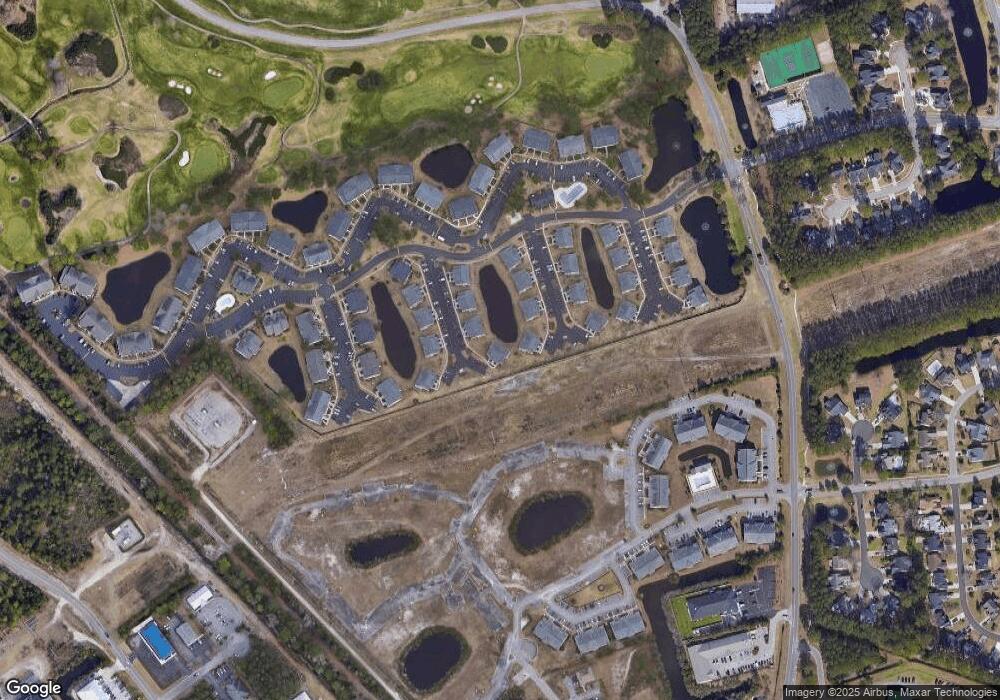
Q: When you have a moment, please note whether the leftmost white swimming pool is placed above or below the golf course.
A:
below it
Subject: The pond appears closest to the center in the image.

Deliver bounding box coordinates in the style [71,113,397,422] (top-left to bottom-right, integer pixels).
[479,266,519,342]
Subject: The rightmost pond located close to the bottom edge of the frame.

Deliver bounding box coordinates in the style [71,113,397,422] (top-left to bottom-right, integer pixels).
[642,561,751,700]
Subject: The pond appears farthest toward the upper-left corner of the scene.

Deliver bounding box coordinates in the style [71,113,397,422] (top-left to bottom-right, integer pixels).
[104,253,171,324]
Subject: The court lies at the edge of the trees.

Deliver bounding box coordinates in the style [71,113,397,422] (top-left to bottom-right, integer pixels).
[760,38,820,88]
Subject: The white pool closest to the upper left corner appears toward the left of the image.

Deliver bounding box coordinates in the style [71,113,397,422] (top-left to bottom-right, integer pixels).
[215,294,235,313]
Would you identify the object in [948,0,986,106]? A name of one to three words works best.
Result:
pond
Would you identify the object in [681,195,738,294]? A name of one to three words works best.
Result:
pond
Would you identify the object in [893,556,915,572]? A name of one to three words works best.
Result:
house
